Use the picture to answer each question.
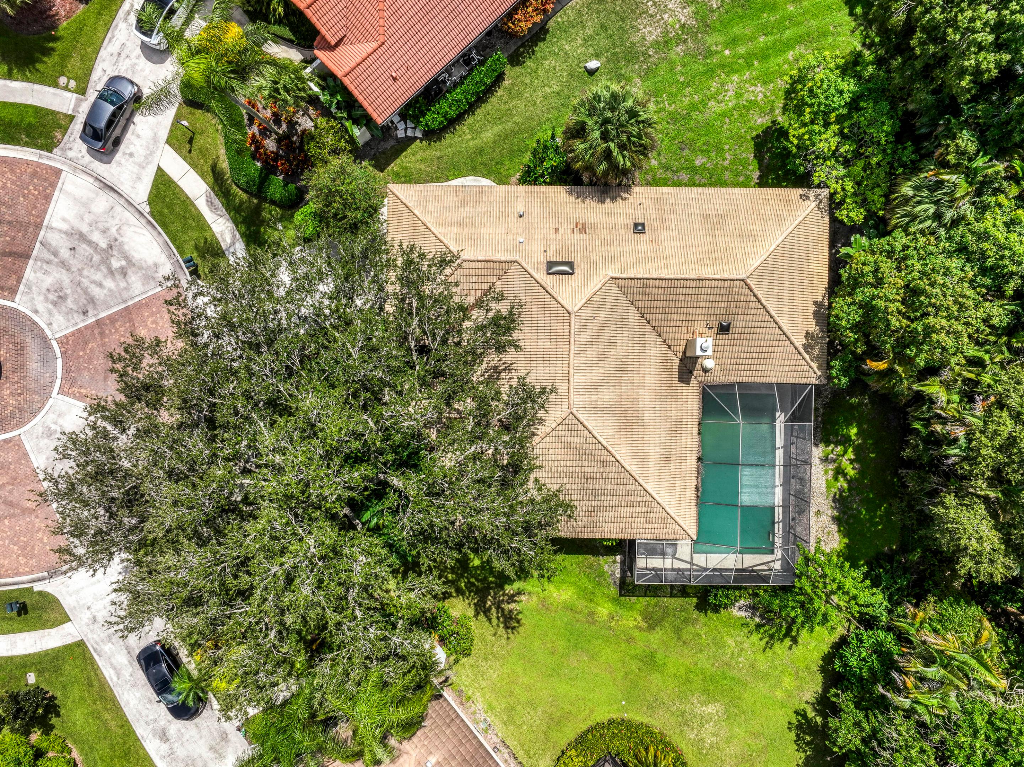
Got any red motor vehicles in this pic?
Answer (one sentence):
No, the scene contains no red motor vehicle.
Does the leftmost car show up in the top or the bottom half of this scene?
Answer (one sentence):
The leftmost car is in the top half of the image.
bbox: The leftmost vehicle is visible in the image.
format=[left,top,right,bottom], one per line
[79,78,139,153]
